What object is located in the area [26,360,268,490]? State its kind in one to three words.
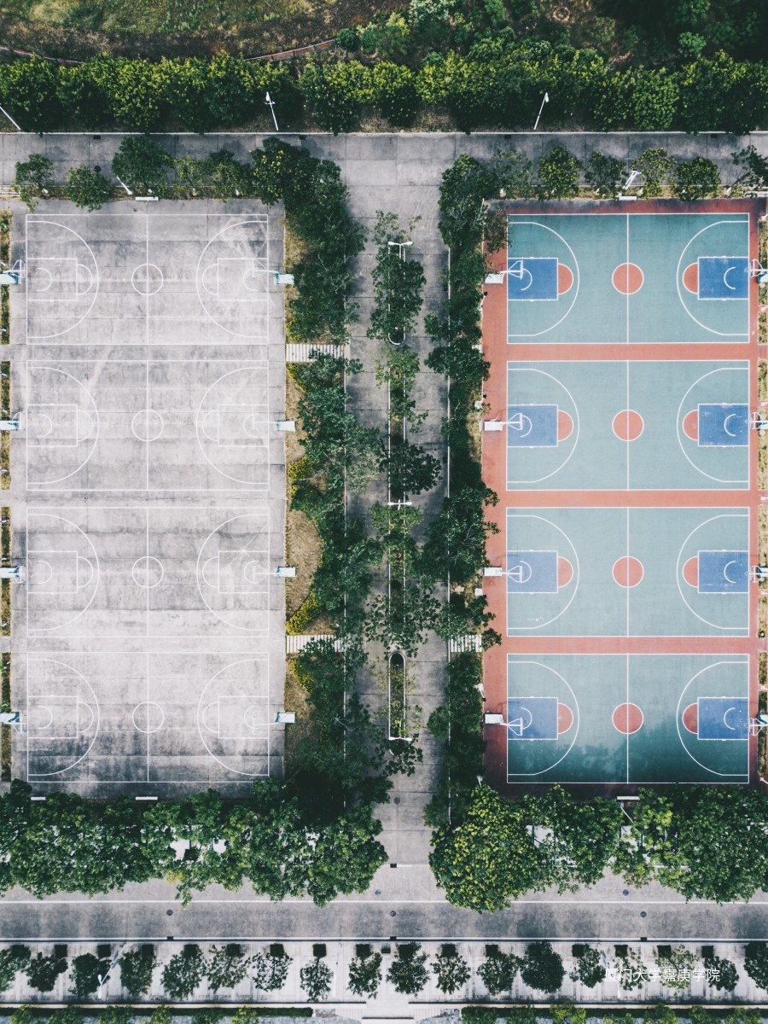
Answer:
basketball court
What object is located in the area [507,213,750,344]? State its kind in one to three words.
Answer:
basketball court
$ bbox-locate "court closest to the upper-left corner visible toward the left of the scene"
[26,214,268,344]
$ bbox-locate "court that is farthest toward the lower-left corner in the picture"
[27,652,269,783]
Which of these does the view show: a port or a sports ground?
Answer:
sports ground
